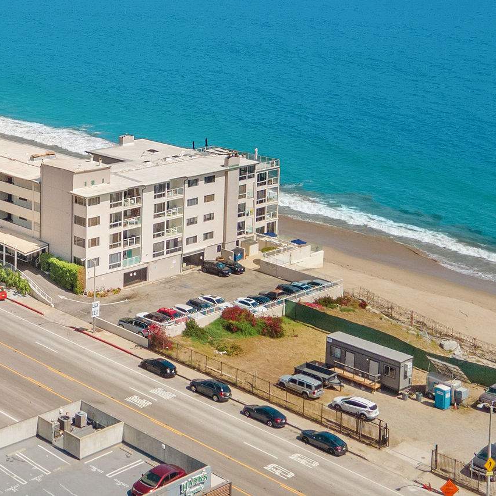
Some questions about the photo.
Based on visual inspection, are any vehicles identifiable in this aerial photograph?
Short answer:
Yes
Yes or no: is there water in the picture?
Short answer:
Yes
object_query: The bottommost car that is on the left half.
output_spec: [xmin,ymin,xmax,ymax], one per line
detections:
[128,462,189,496]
